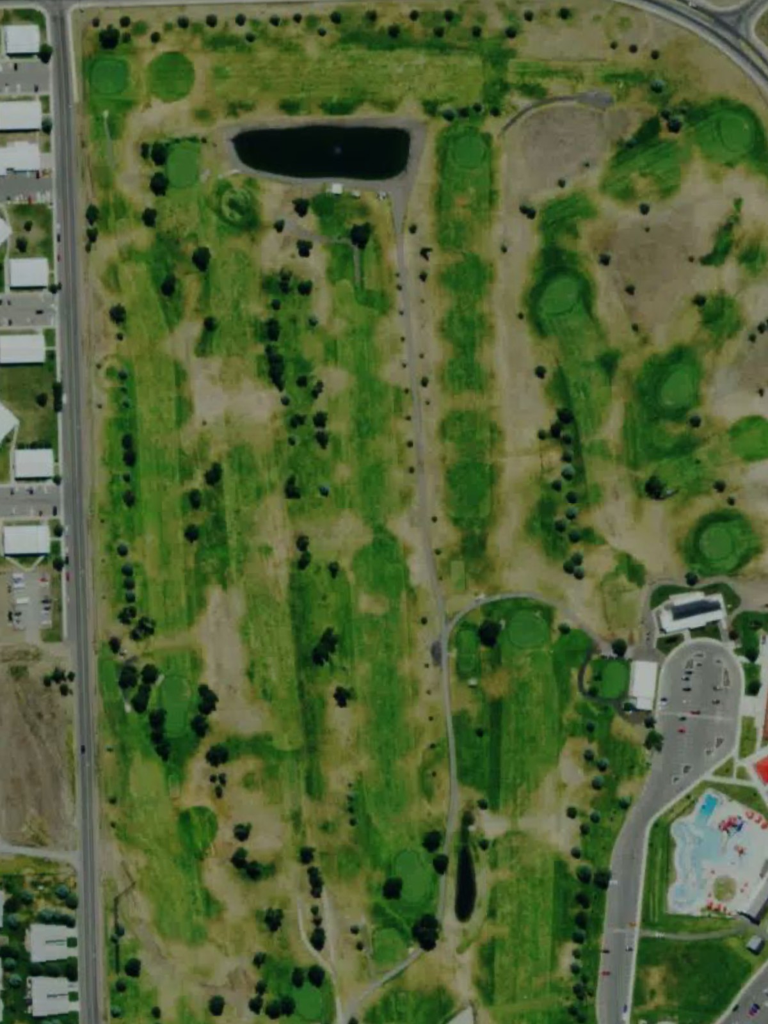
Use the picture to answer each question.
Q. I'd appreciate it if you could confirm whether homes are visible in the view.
Yes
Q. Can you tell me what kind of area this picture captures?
golf course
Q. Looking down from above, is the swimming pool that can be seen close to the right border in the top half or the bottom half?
bottom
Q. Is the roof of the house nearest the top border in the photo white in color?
Yes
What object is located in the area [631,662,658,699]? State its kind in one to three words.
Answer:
shed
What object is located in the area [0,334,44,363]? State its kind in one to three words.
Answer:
house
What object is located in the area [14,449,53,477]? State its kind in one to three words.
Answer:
house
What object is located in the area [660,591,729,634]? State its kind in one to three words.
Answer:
building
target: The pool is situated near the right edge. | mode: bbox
[666,788,768,918]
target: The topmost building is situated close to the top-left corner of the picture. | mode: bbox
[4,24,39,52]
